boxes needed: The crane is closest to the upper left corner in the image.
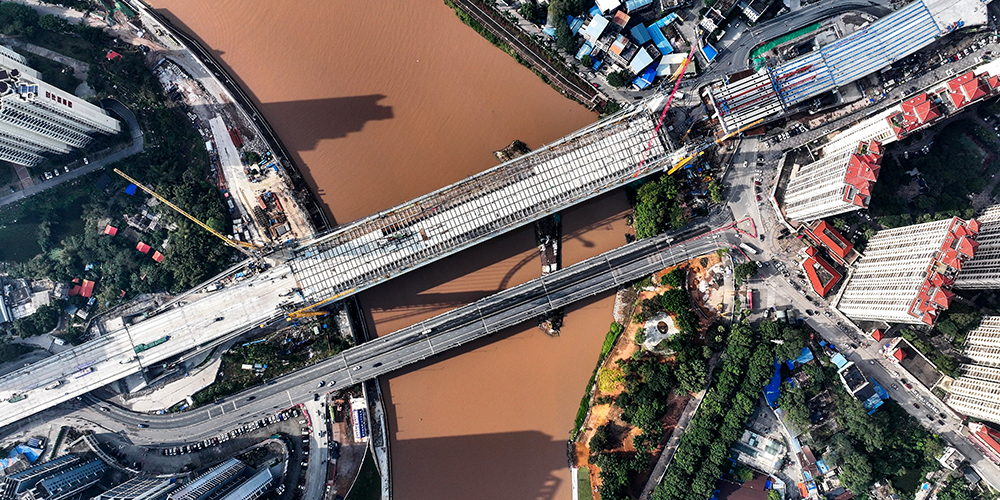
[114,169,267,257]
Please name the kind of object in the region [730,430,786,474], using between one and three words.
house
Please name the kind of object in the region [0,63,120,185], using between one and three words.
building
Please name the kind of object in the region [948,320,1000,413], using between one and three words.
building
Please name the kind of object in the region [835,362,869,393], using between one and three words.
house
